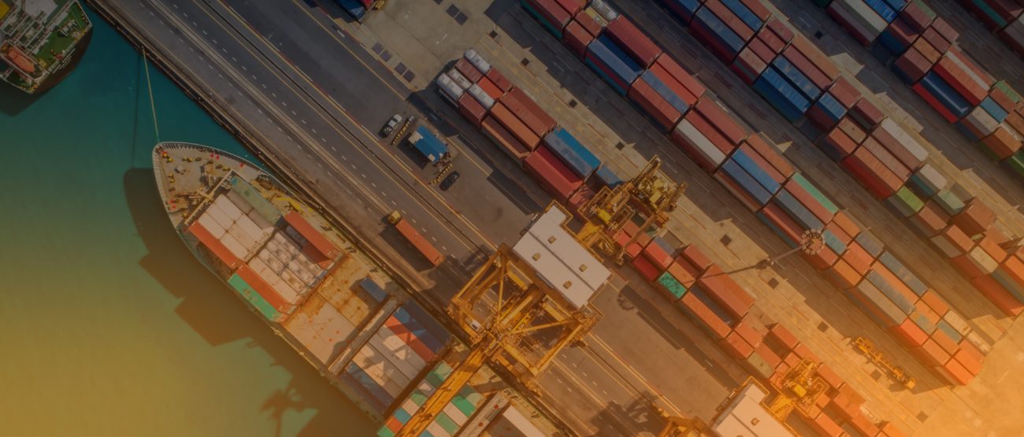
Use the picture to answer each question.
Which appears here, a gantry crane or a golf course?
gantry crane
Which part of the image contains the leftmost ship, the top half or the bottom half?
top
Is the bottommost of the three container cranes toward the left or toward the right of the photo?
right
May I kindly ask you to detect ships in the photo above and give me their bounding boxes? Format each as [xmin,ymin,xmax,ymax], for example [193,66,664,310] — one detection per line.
[0,0,95,93]
[156,143,567,437]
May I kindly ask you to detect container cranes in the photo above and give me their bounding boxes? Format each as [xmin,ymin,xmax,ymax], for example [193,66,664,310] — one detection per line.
[393,183,635,437]
[605,152,691,271]
[651,357,830,437]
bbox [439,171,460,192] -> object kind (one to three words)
car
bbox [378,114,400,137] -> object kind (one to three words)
truck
